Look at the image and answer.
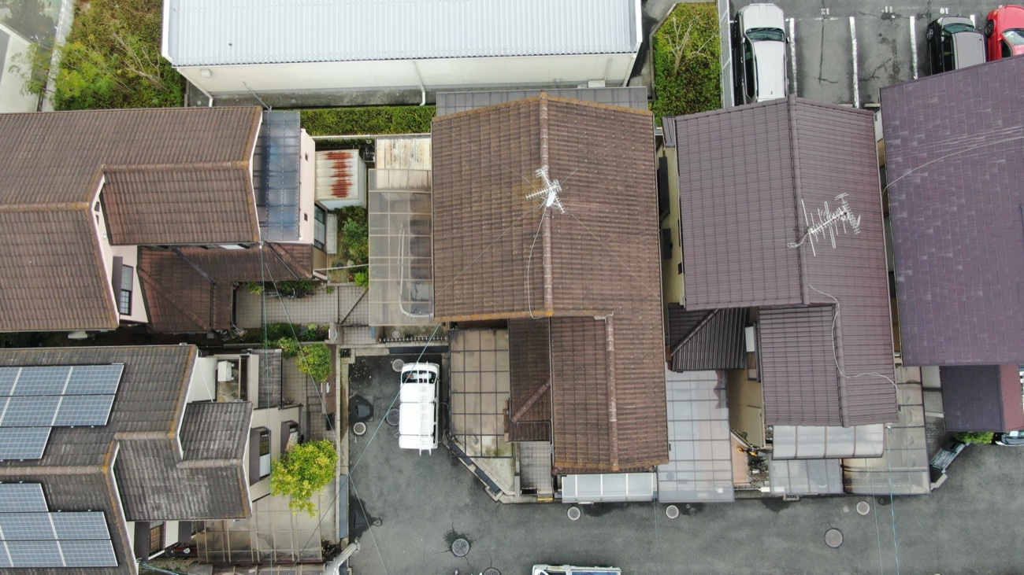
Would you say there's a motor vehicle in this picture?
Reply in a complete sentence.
Yes, there is a motor vehicle in the image.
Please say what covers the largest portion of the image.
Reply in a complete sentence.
The bulk of the photo consists of buildings.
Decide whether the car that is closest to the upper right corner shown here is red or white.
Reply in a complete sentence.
The car that is closest to the upper right corner is red.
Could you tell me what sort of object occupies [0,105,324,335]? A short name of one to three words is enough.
house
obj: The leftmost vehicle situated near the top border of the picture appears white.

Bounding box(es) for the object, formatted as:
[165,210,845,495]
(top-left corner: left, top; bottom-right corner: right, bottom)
[733,5,788,106]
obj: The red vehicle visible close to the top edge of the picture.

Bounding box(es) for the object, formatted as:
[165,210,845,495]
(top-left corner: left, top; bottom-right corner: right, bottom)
[982,6,1024,62]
